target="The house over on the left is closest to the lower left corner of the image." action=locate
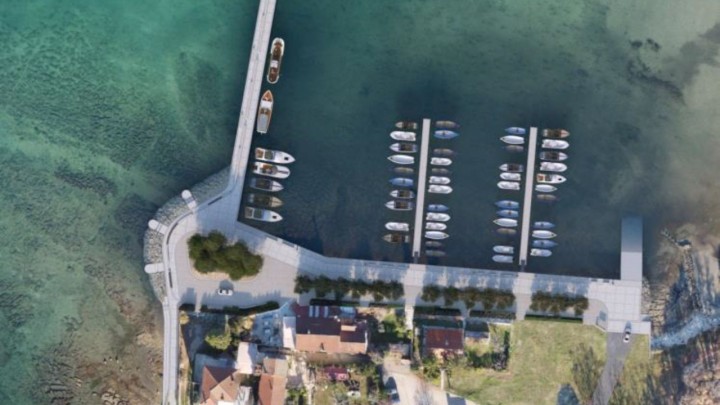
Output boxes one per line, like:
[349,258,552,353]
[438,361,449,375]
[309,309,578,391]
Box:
[200,365,239,405]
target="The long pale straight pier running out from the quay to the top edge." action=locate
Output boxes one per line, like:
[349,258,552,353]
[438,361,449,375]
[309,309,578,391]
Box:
[231,0,277,174]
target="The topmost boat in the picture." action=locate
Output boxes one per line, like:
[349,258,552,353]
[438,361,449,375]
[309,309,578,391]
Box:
[266,37,282,85]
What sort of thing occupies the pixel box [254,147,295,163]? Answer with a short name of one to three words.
boat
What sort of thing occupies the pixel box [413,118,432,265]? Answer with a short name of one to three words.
pier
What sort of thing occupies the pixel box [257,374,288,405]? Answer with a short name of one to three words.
house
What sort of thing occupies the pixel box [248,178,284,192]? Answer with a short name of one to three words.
boat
